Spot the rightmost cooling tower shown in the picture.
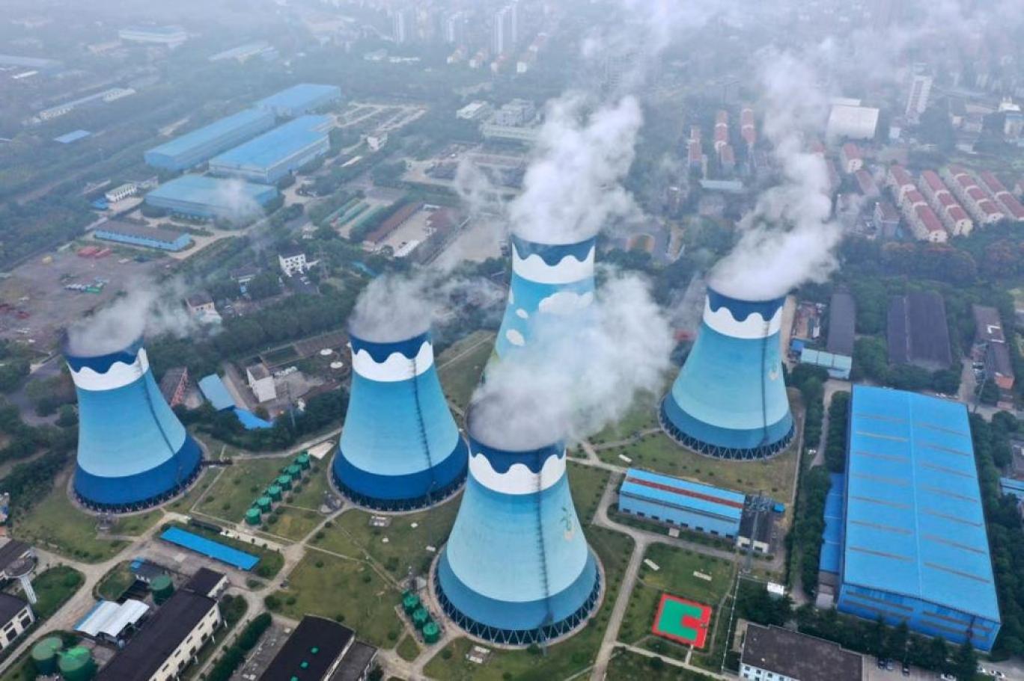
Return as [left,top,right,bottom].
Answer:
[656,265,799,463]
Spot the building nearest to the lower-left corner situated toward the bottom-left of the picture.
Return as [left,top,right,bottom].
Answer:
[0,599,30,647]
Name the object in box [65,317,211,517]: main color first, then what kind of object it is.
blue cooling tower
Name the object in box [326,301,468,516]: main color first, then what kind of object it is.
blue cooling tower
